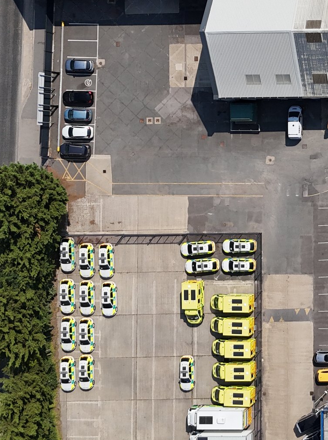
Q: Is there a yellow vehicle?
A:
Yes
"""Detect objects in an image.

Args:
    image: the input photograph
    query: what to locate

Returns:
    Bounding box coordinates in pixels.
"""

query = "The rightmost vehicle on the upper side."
[287,107,304,139]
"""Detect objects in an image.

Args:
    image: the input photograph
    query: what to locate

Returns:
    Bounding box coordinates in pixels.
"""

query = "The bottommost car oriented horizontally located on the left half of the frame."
[59,143,91,159]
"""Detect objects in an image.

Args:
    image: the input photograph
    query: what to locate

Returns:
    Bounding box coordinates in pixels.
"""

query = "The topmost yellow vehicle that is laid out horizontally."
[214,295,256,316]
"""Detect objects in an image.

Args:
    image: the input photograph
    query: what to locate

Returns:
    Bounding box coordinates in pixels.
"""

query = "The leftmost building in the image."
[204,0,304,101]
